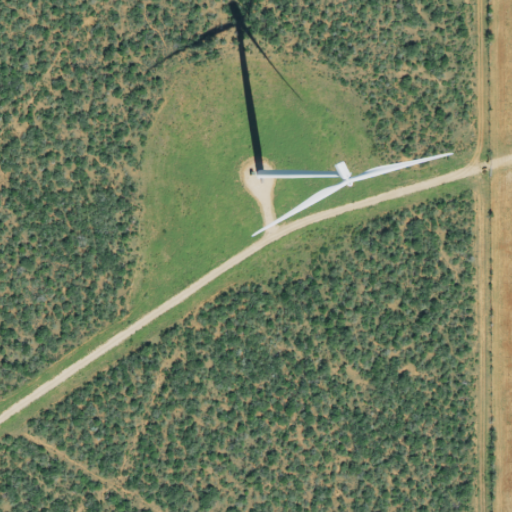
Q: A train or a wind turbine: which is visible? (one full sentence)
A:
It is a wind turbine that can be seen here.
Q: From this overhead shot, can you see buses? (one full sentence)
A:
No, this view has no bus in it.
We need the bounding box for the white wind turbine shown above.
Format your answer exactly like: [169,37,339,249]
[252,153,454,236]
